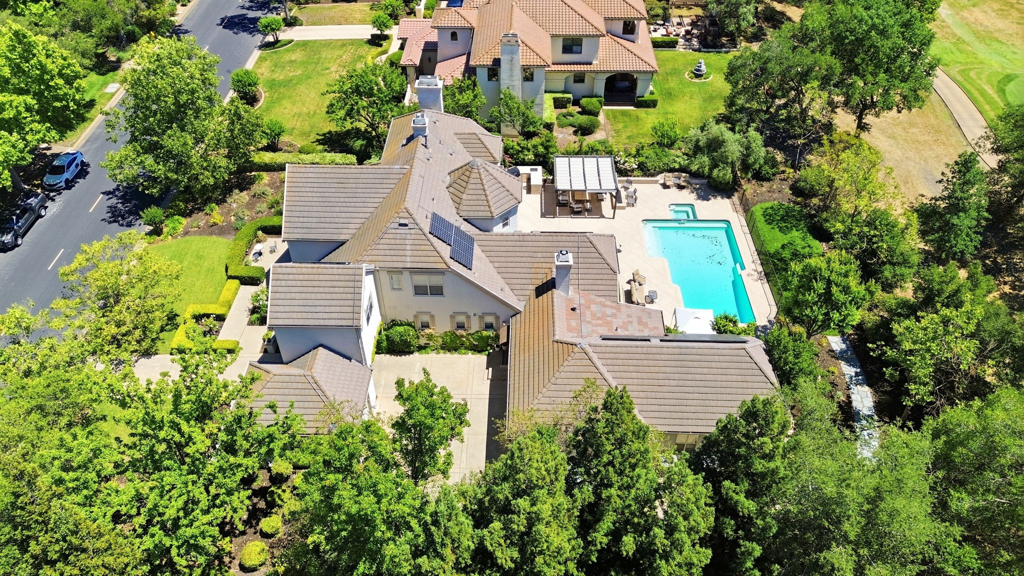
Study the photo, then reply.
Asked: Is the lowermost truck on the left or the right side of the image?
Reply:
left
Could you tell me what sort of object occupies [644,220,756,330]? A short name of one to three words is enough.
swimming pool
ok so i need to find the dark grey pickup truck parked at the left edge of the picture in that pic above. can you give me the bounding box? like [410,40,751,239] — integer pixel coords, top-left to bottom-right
[0,195,46,247]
